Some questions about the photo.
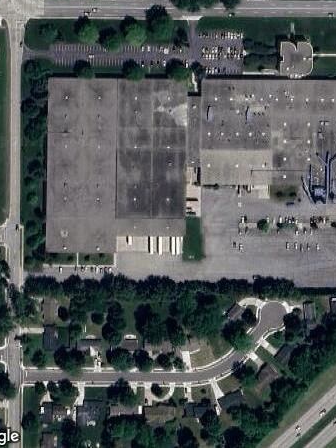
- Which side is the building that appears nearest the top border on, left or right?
right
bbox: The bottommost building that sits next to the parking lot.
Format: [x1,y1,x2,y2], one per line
[46,78,336,253]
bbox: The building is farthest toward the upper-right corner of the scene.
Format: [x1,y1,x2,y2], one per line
[279,42,314,77]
